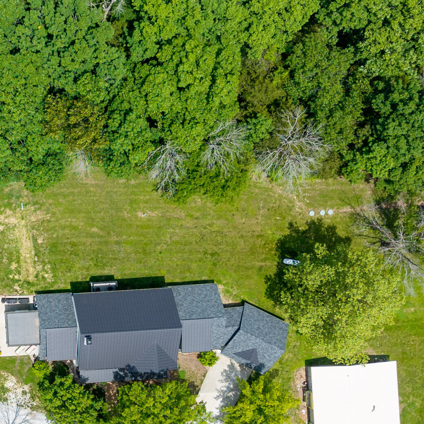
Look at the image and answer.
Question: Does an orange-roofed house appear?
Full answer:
No, there is no orange-roofed house in the image.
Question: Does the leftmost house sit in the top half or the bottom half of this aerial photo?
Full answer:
Seen from above, the leftmost house lies in the bottom half of the view.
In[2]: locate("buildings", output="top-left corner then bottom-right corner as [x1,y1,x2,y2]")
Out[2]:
[36,281,288,382]
[304,362,400,424]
